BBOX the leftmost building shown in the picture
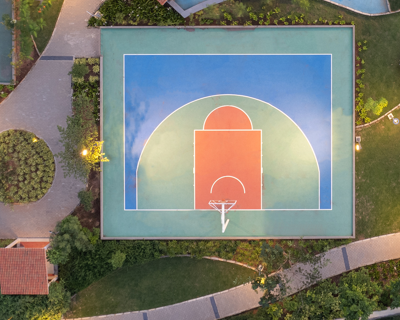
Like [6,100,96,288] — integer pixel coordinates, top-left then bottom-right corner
[0,237,58,295]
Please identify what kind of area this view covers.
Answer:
sports ground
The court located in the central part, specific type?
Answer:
basketball court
